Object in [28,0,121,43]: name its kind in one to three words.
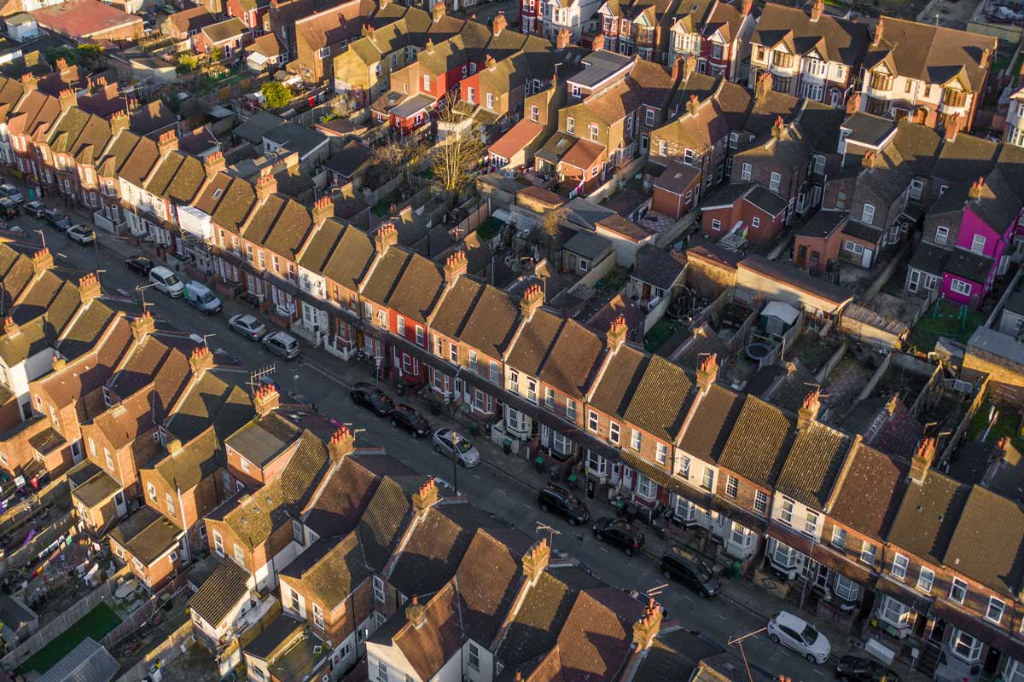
building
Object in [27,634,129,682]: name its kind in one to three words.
shed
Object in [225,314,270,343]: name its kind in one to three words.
car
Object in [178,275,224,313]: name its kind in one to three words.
van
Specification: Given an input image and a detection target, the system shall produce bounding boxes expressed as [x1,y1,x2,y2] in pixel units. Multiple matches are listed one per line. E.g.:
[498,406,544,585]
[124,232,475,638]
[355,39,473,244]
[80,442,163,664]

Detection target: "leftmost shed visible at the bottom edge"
[0,598,51,678]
